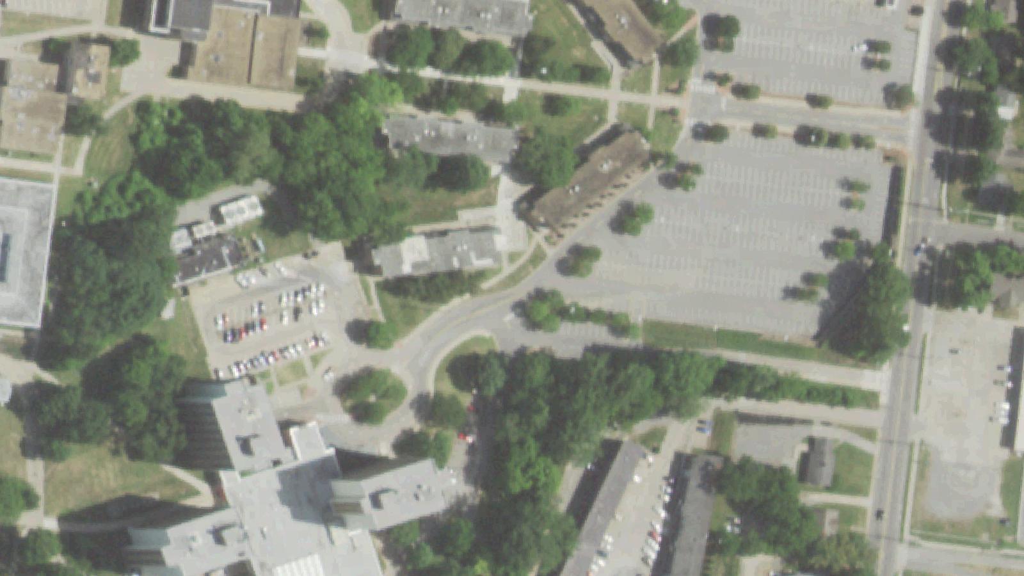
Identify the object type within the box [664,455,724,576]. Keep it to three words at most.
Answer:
building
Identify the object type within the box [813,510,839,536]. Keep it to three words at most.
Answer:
house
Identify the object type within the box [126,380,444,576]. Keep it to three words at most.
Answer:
building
